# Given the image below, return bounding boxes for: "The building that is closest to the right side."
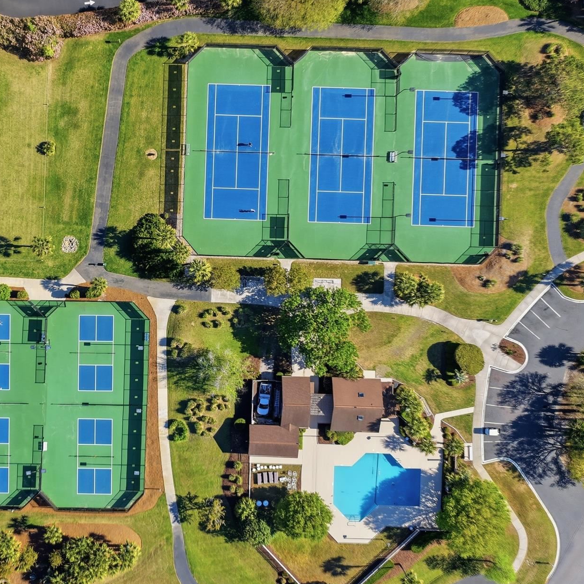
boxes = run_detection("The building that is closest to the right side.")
[330,377,383,432]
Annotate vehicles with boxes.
[257,382,272,416]
[482,426,500,437]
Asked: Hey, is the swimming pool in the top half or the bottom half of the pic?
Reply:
bottom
